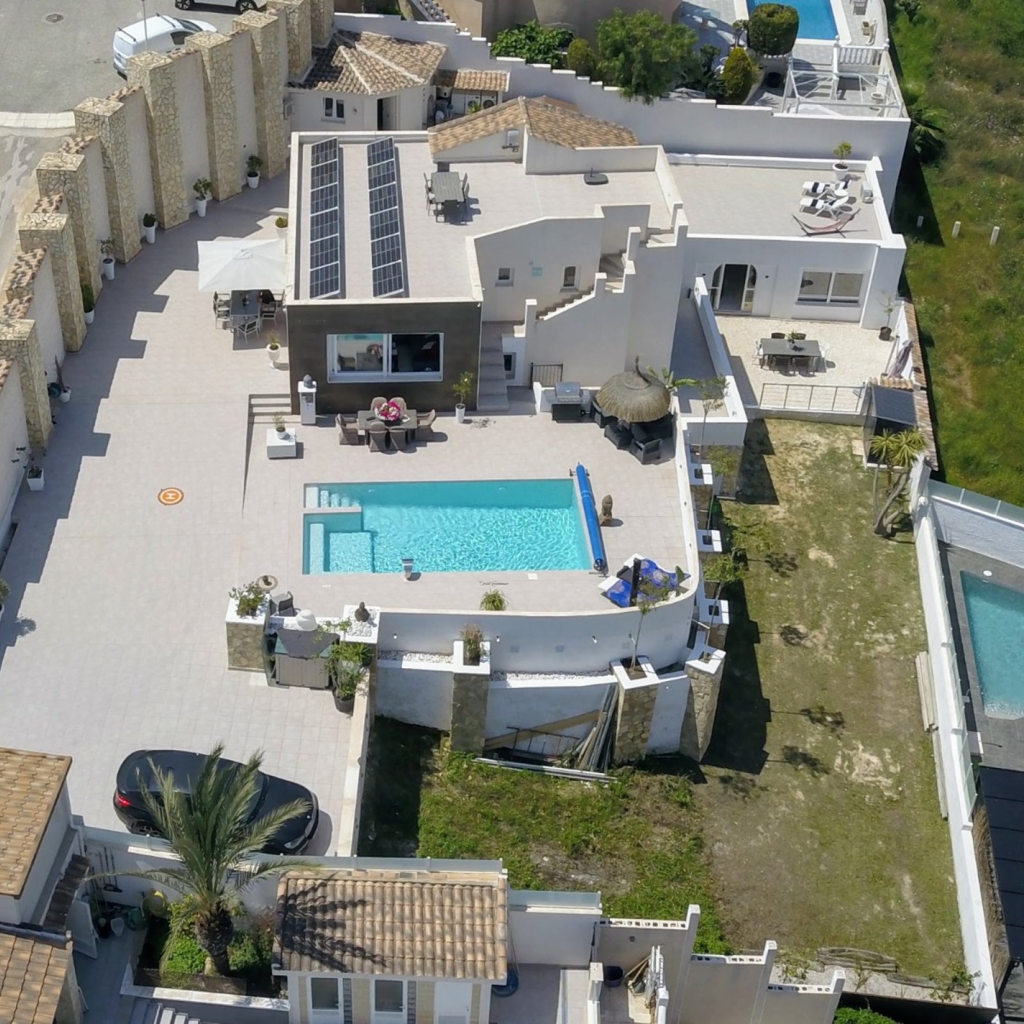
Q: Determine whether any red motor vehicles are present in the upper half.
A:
No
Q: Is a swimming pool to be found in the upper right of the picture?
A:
Yes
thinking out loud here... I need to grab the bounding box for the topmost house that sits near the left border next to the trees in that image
[0,730,102,927]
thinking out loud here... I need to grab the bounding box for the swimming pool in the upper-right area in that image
[740,0,851,47]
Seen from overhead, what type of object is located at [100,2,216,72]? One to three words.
van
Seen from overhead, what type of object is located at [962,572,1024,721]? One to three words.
swimming pool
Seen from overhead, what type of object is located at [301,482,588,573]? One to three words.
swimming pool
